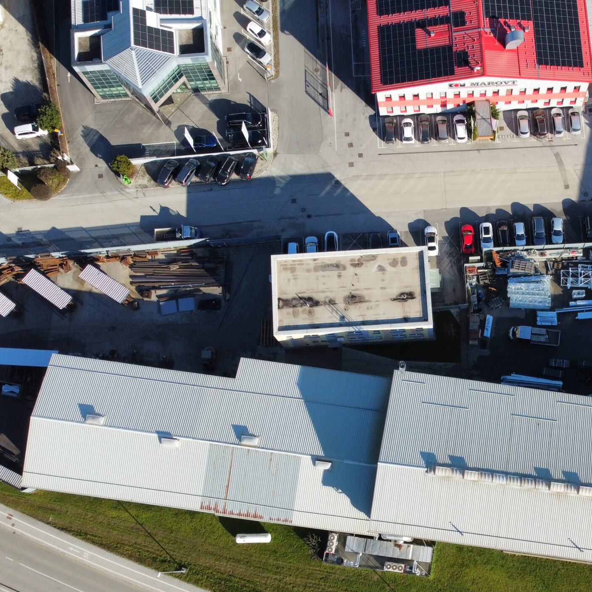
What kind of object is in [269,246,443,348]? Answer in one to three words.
building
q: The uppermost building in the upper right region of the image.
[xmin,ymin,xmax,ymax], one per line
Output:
[367,0,592,115]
